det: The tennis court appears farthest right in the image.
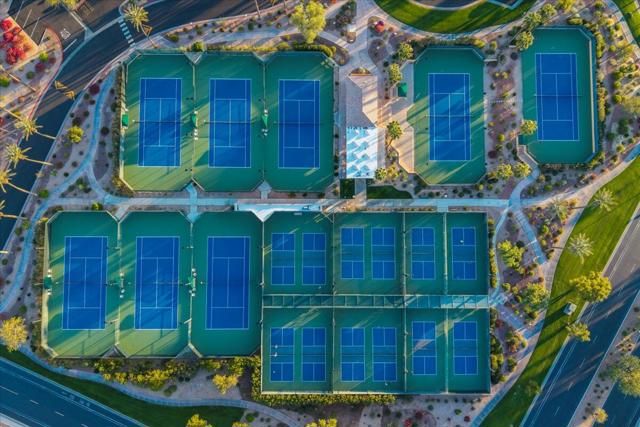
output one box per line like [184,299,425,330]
[518,28,594,162]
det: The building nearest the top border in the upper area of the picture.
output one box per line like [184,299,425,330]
[345,76,378,131]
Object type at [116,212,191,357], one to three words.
tennis court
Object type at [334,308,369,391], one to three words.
sports court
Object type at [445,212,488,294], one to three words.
sports court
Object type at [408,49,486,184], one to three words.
tennis court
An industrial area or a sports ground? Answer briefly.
sports ground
